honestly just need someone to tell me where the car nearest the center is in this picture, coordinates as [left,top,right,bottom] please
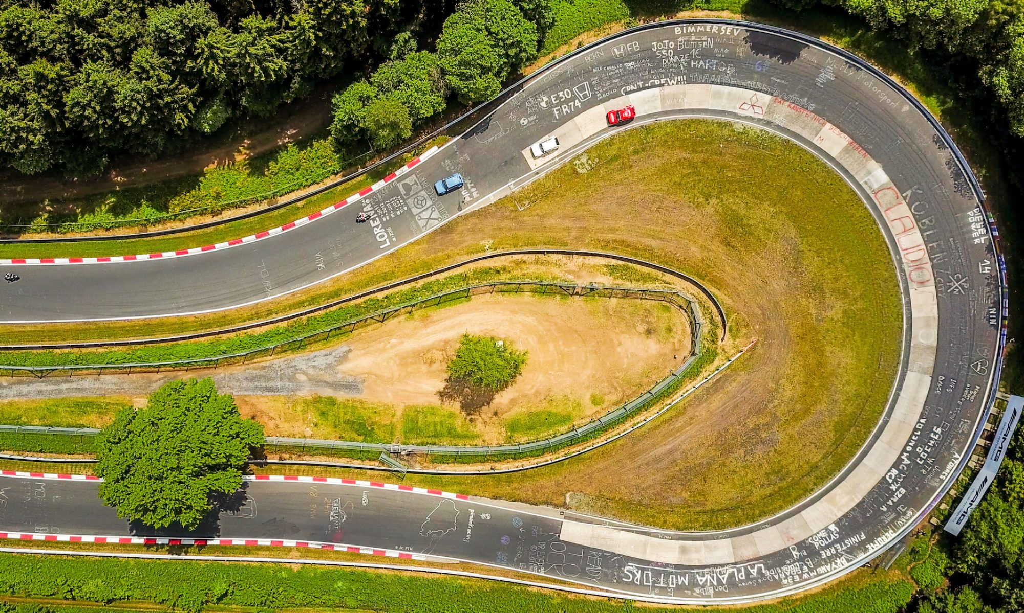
[434,174,466,195]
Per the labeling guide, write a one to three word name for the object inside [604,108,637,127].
car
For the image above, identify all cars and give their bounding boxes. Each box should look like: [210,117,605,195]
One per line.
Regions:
[434,174,466,195]
[604,108,637,127]
[529,136,561,158]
